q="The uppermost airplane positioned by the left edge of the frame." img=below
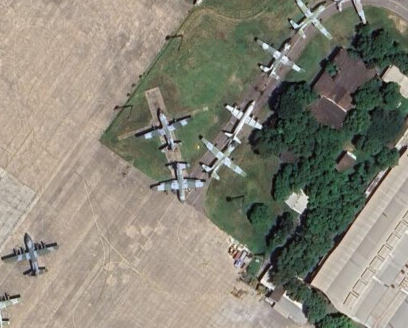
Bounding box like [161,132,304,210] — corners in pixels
[4,237,56,282]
